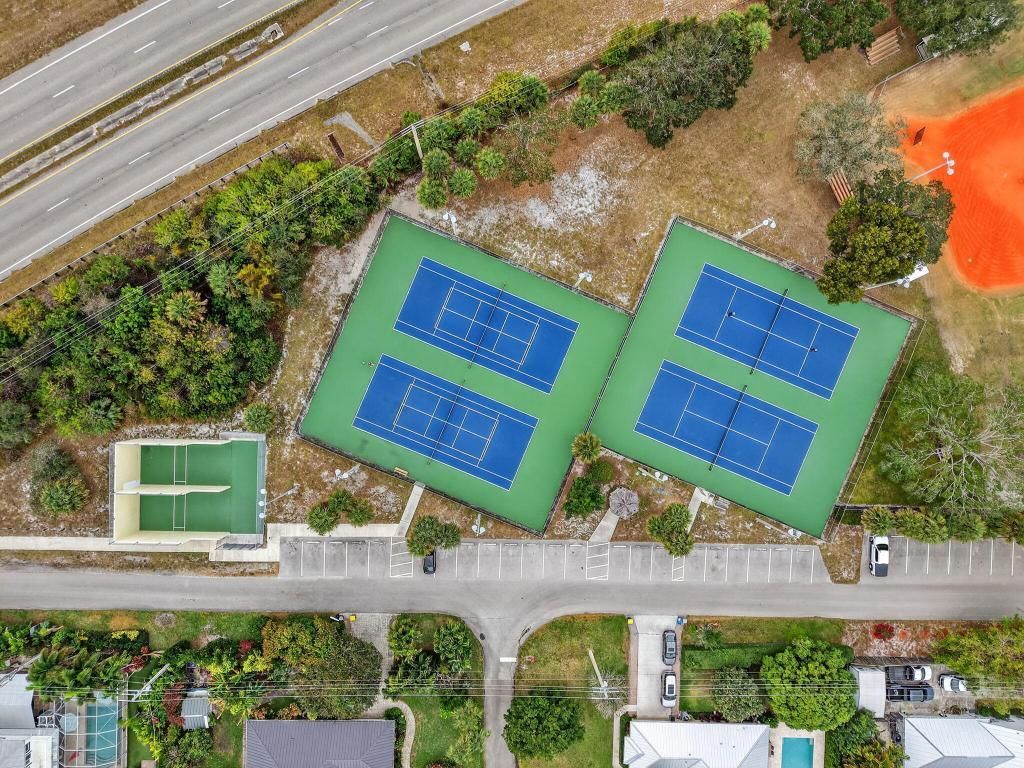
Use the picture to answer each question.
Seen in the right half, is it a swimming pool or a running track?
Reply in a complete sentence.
It is a swimming pool that can be seen in the right half.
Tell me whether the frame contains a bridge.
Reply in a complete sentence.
No, there appears to be no bridge in this shot.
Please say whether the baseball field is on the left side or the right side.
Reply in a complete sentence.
The baseball field sits on the right side.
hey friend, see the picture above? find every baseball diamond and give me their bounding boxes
[887,67,1024,311]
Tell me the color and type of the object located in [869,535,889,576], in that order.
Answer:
white vehicle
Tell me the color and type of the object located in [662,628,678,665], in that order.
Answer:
gray car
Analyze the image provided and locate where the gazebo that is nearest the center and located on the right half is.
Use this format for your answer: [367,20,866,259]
[608,486,638,516]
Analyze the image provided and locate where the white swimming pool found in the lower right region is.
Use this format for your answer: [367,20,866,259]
[770,722,828,768]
